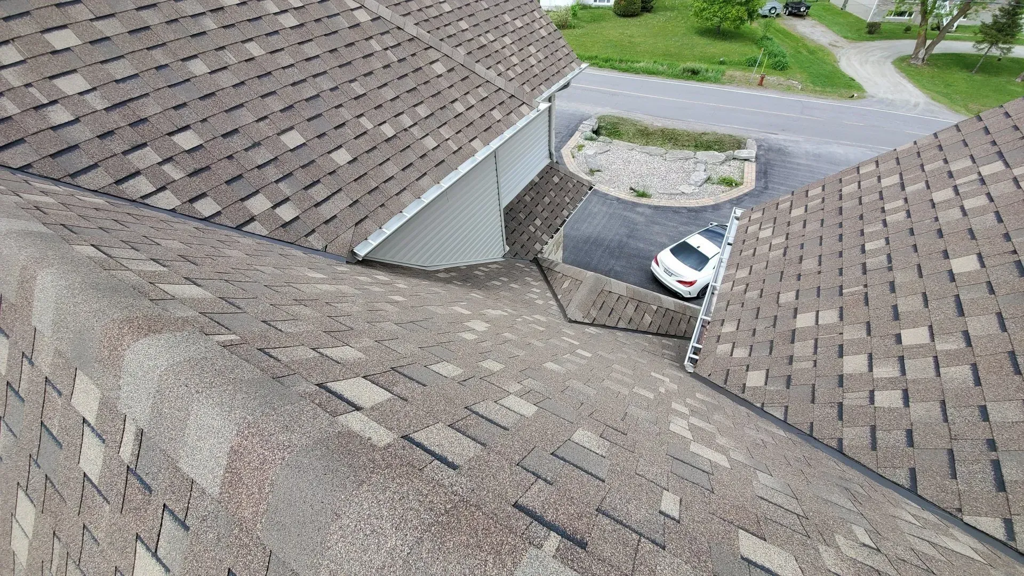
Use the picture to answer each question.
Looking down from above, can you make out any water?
No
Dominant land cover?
buildings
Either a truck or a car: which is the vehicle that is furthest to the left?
car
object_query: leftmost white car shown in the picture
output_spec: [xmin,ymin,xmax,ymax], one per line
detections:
[653,220,730,295]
